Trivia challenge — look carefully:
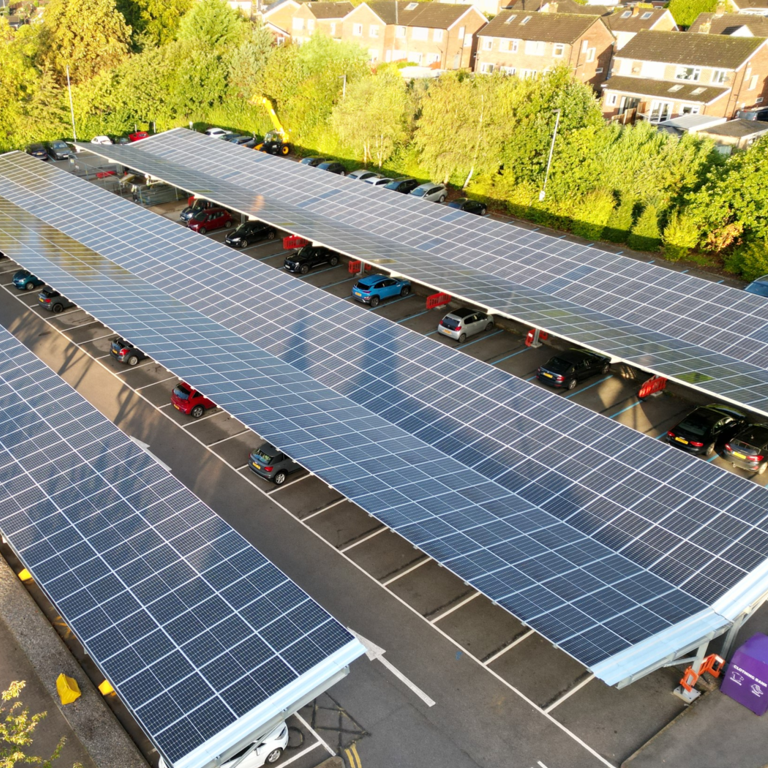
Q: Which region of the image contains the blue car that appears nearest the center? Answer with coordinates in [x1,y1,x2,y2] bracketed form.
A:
[351,275,410,307]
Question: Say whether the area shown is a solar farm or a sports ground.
solar farm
